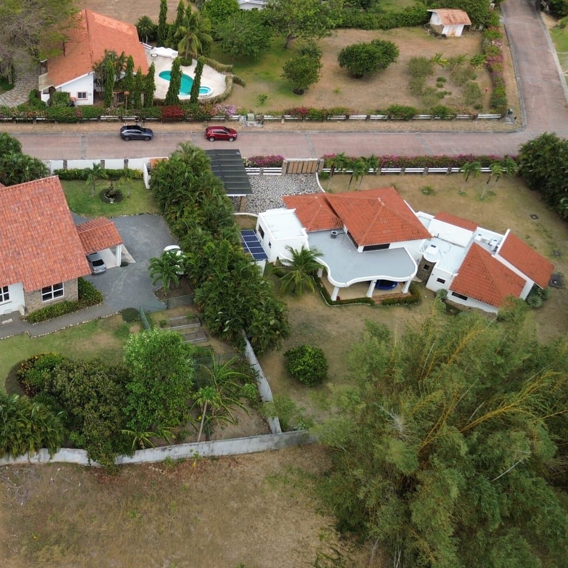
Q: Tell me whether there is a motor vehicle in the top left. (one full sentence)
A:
Yes, looking in the top left, one can make out a motor vehicle.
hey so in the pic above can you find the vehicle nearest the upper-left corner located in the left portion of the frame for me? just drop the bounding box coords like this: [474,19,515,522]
[120,125,153,142]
